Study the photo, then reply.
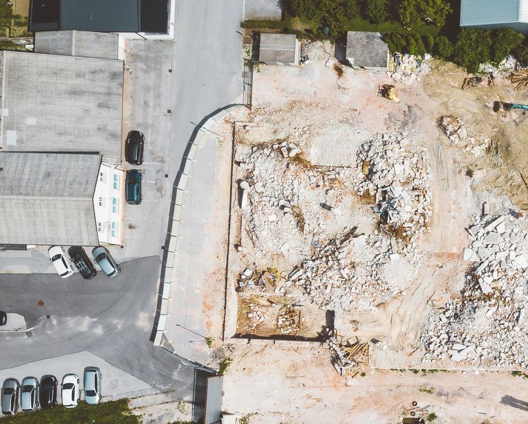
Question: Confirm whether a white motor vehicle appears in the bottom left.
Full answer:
Yes, in the bottom left there is a white motor vehicle.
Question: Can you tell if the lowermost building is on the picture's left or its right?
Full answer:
It is on the left.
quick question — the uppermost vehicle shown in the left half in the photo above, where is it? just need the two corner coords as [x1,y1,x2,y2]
[124,130,145,165]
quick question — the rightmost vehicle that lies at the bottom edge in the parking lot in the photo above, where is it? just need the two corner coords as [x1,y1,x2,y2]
[82,367,103,403]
